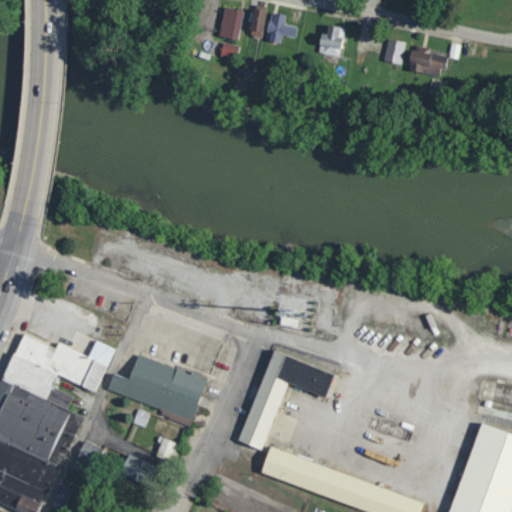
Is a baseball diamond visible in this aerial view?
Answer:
No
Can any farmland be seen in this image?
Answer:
No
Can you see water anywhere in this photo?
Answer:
Yes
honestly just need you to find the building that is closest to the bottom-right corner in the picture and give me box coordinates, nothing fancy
[447,423,512,512]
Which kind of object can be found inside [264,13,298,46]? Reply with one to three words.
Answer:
house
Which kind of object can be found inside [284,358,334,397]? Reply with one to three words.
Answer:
building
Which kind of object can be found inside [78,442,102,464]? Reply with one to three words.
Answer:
building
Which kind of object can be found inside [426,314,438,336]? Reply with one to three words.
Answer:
vehicle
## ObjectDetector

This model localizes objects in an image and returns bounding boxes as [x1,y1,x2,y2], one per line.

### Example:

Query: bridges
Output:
[0,0,68,232]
